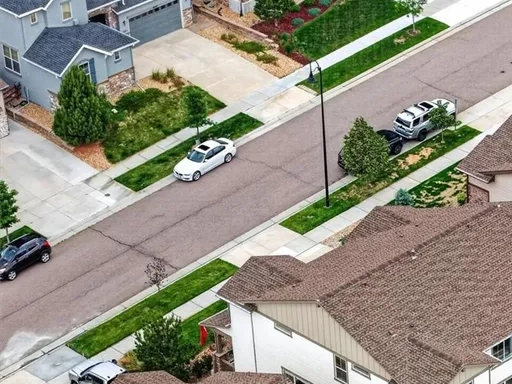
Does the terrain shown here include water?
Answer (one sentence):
No, the picture contains no water.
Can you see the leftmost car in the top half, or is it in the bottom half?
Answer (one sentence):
The leftmost car is in the bottom half of the image.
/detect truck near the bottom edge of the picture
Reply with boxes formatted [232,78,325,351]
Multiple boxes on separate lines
[66,355,127,384]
